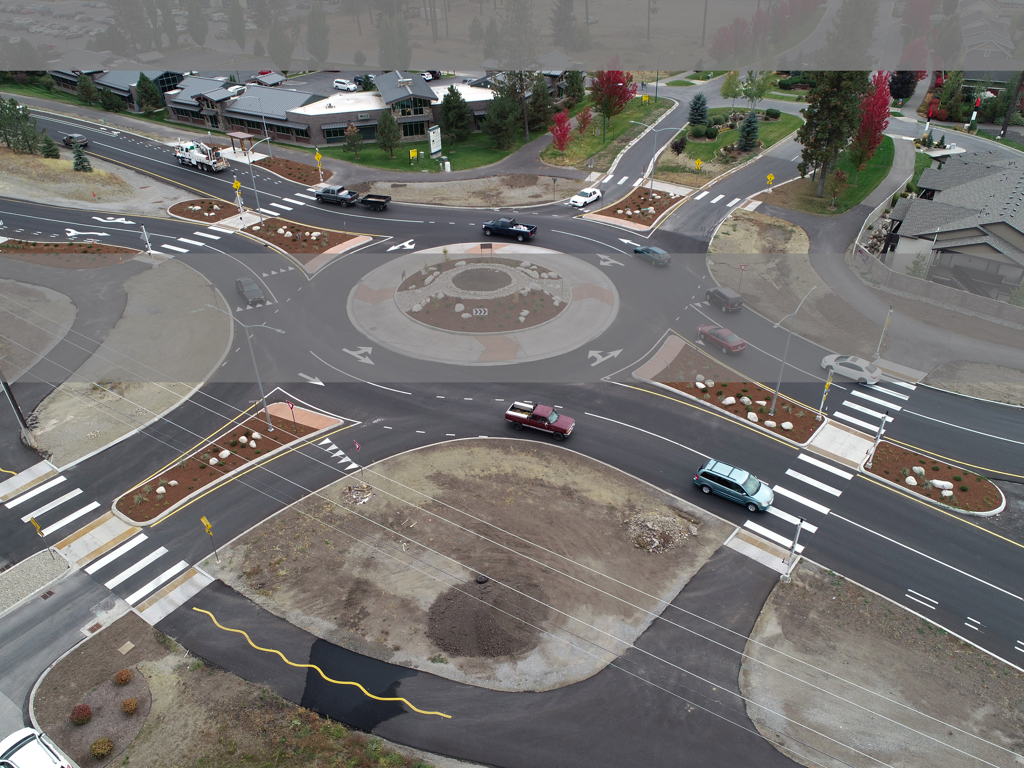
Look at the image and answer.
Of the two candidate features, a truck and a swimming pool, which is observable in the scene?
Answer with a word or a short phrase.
truck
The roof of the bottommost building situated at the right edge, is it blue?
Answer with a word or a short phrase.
No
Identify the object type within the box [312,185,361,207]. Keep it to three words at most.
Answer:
truck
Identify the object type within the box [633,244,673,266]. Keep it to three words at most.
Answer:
car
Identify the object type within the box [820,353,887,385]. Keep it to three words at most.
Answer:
car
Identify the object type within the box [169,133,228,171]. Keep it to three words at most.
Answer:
truck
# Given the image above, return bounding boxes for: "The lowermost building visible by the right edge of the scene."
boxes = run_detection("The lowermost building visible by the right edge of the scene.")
[877,116,1024,300]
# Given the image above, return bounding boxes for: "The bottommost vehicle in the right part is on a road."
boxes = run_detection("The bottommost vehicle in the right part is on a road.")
[690,456,779,513]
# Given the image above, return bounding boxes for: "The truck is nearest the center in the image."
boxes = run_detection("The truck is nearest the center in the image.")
[504,402,578,441]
